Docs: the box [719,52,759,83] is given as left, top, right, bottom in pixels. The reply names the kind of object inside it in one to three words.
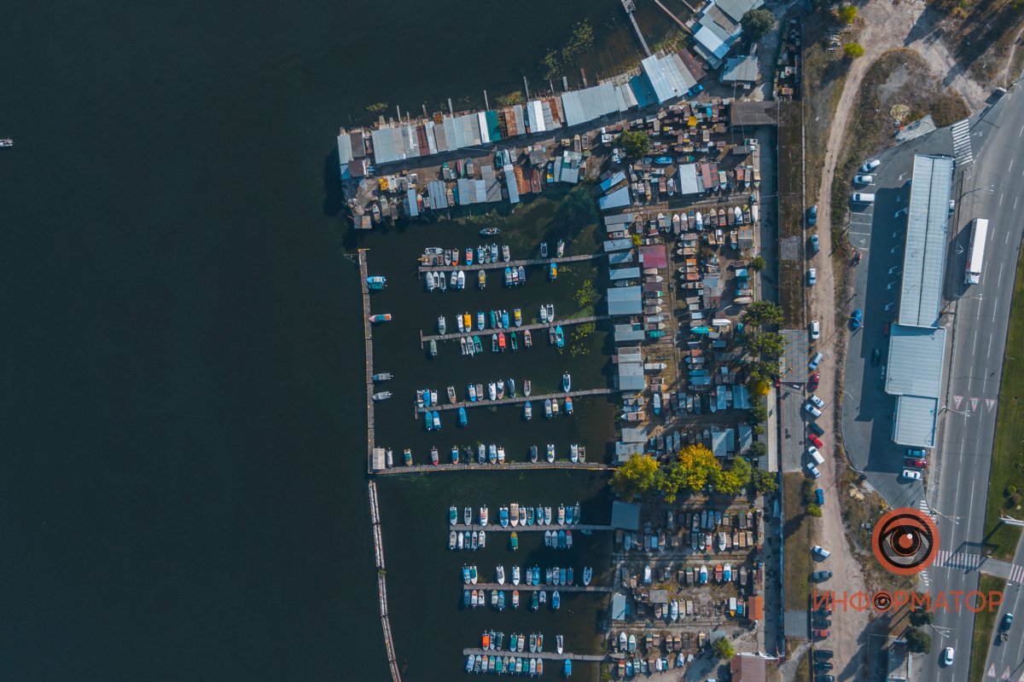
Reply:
shed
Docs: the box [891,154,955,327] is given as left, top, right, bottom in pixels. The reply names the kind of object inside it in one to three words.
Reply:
building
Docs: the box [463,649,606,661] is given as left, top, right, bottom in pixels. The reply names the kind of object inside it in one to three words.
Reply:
pier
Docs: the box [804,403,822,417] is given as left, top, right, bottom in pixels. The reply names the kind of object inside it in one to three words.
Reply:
car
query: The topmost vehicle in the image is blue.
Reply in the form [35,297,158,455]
[688,83,703,96]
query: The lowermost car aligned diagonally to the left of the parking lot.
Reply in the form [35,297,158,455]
[814,544,830,559]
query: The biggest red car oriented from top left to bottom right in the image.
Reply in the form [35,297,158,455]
[807,434,824,449]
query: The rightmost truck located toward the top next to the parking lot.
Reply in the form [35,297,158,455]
[964,219,989,284]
